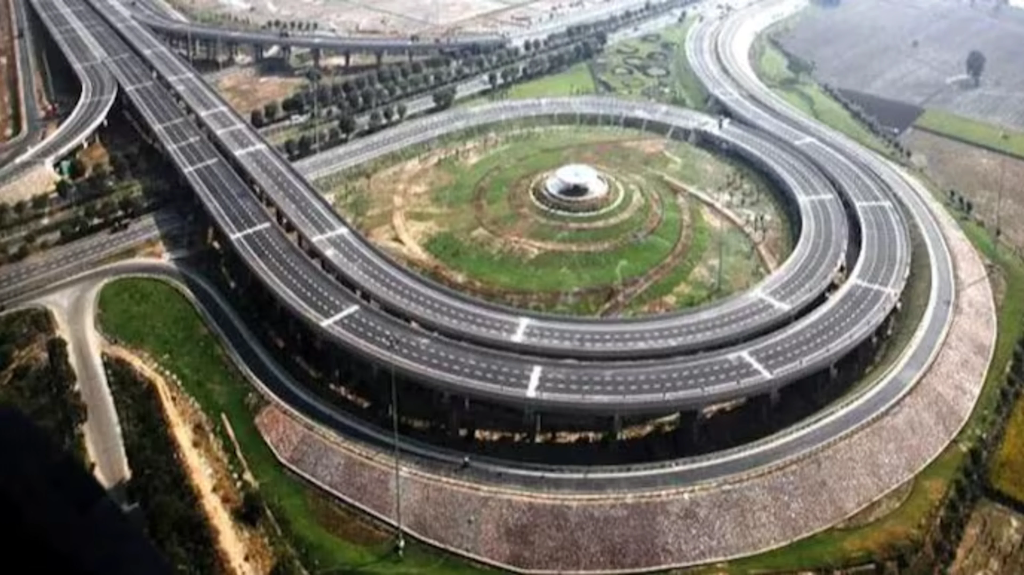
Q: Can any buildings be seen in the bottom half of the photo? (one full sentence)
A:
No, there's no building to be seen in the bottom half of the photo.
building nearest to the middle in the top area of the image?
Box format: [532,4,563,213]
[540,172,618,212]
